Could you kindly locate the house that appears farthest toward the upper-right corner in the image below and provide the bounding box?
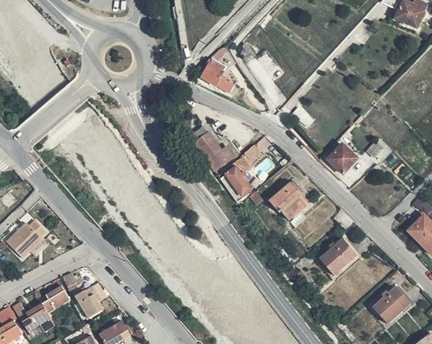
[394,0,426,28]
